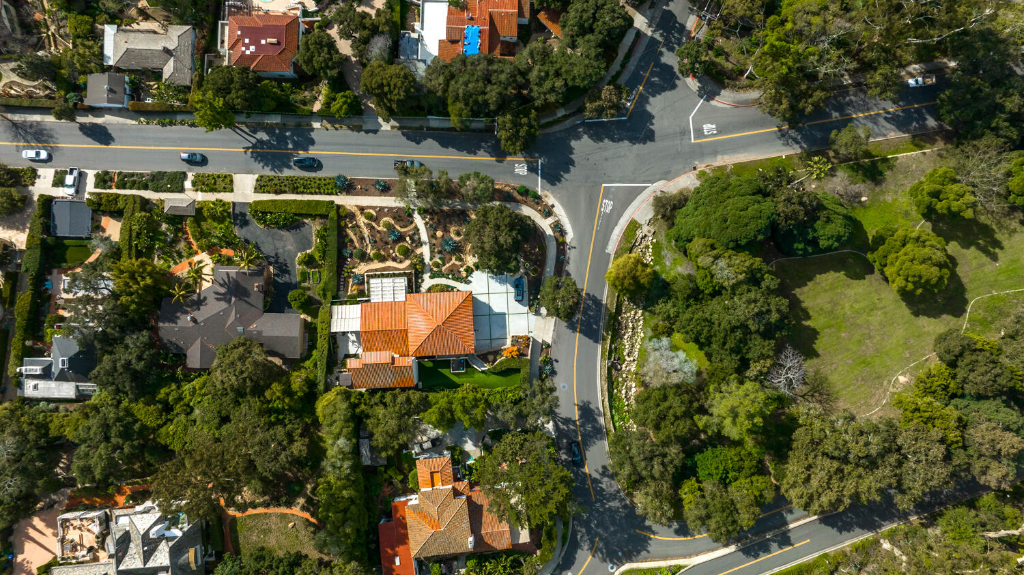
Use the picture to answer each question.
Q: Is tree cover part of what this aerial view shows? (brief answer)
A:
Yes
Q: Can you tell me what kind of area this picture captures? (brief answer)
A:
residential area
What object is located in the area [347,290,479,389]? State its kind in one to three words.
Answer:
house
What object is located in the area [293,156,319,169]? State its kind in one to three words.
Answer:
vehicle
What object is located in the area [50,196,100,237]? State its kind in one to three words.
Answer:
building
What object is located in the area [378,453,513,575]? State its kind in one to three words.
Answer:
house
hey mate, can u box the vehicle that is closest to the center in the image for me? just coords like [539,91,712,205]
[513,278,525,302]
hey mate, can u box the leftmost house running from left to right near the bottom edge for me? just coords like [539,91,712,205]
[51,505,214,575]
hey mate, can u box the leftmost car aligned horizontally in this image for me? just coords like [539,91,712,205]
[23,149,51,161]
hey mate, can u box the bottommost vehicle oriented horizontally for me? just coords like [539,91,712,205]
[411,439,437,454]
